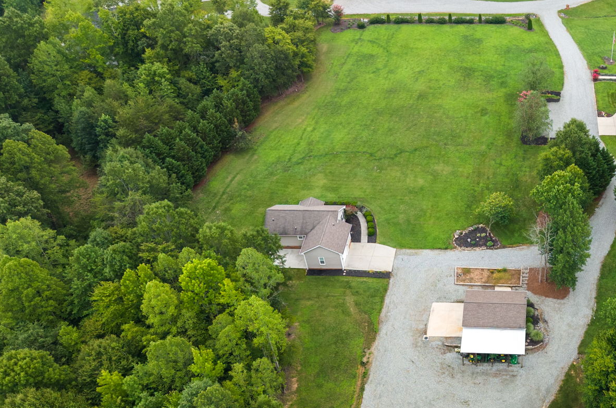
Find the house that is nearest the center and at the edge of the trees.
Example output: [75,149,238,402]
[266,195,351,269]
